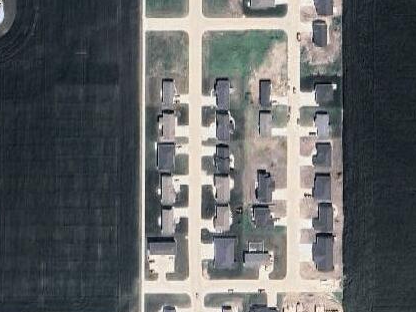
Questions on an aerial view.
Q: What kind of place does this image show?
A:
farmland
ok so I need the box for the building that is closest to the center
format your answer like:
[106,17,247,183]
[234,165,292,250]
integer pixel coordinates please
[216,147,229,174]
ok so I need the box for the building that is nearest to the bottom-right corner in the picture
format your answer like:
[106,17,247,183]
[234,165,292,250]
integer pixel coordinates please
[312,236,333,272]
